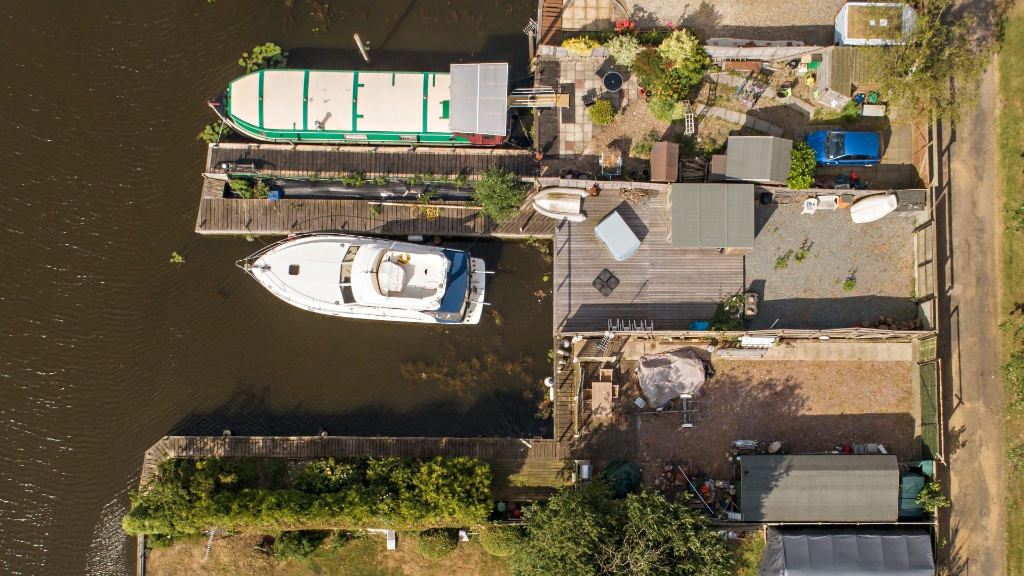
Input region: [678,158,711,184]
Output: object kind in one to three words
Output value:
building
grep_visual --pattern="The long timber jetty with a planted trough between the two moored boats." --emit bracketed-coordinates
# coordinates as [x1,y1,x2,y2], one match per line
[196,142,555,238]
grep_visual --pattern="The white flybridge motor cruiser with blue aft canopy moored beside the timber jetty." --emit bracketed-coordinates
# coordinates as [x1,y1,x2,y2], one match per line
[234,234,495,326]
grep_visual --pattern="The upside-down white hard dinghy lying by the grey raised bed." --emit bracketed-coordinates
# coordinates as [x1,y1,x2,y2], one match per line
[848,198,903,230]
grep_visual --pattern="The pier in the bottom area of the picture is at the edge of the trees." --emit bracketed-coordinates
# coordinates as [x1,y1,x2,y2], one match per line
[138,436,575,492]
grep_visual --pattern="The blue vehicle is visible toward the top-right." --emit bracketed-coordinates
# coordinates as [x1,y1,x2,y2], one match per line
[799,126,883,167]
